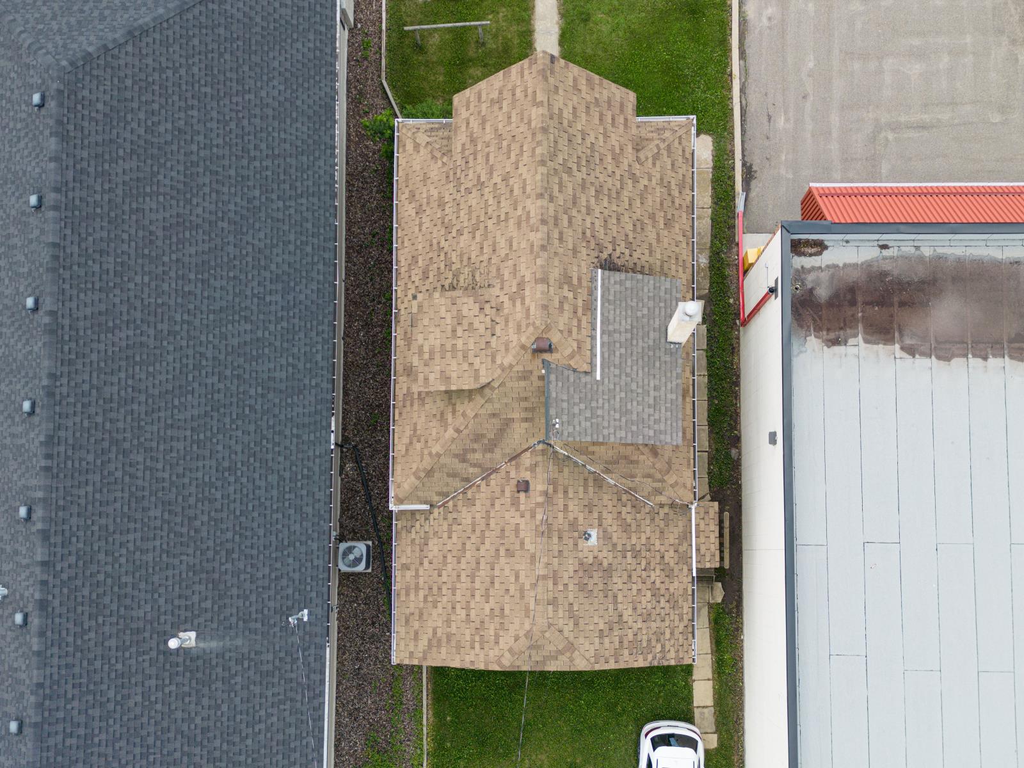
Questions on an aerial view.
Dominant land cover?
buildings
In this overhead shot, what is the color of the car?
white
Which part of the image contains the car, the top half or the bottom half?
bottom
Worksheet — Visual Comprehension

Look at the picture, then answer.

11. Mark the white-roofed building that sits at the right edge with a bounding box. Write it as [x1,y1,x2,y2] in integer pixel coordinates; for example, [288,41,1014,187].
[733,185,1024,768]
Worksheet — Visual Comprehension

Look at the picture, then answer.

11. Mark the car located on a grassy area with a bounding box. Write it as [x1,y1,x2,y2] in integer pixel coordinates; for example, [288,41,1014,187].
[638,720,705,768]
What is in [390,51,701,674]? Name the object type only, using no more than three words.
house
